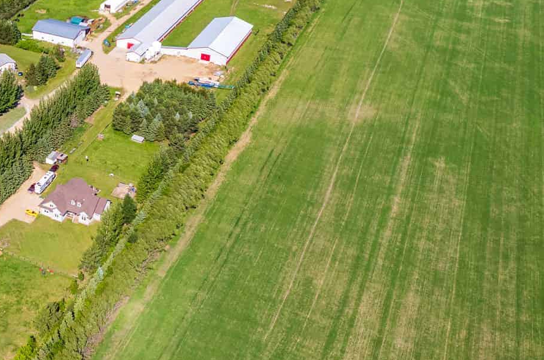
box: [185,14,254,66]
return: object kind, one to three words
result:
barn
